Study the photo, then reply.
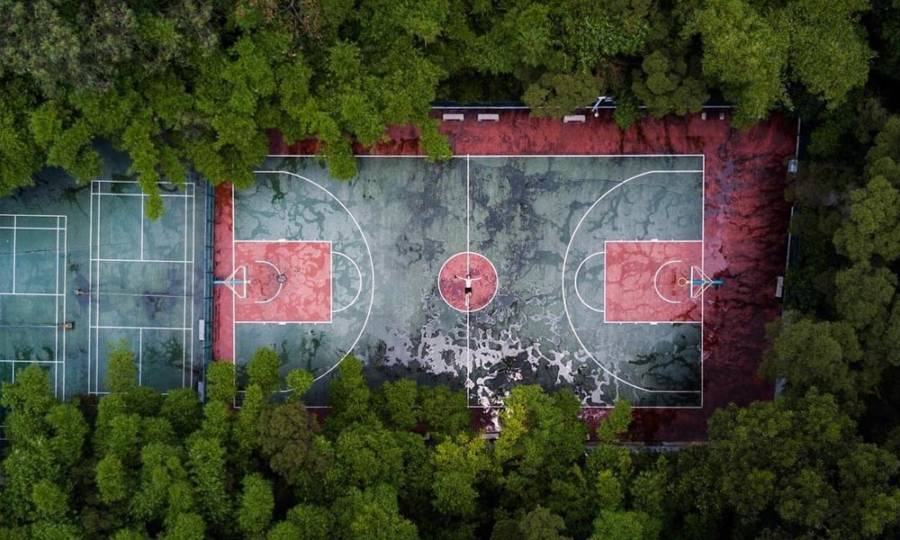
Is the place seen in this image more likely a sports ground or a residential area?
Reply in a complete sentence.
The area seen from above is a sports ground.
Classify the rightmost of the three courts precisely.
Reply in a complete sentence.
It turns out the rightmost of the three courts is a basketball court.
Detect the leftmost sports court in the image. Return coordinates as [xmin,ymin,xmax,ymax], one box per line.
[0,214,67,425]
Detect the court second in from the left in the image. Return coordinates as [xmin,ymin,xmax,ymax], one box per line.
[88,180,194,406]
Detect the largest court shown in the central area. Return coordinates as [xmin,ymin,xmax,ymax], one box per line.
[215,108,799,441]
